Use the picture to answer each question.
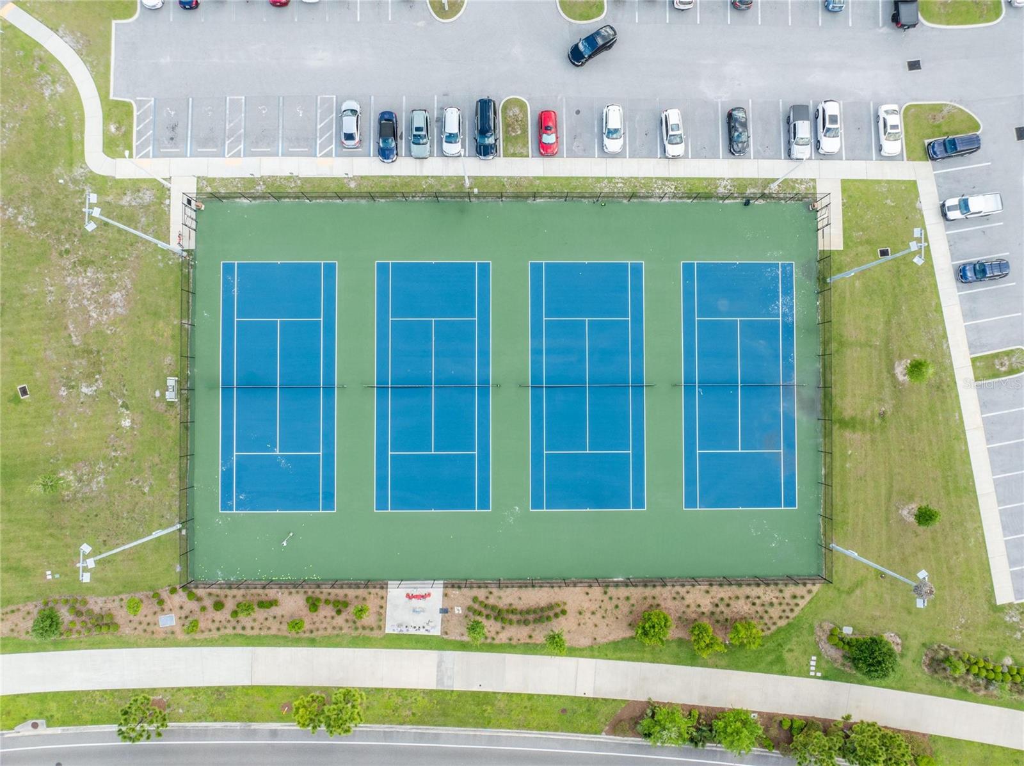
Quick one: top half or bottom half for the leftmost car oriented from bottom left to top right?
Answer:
top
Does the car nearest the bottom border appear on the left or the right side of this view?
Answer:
right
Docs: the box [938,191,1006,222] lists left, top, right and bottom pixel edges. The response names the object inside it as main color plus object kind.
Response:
white truck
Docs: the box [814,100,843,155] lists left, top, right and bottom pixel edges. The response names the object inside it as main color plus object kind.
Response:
white car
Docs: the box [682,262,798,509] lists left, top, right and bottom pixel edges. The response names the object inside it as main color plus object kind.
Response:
blue tennis court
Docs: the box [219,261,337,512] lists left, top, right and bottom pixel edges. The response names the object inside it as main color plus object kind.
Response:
blue tennis court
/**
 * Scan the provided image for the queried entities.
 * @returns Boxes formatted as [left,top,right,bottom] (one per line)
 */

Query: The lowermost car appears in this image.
[954,258,1011,284]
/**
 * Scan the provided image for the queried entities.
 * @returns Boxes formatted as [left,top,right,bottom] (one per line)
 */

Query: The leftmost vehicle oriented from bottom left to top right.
[567,24,619,68]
